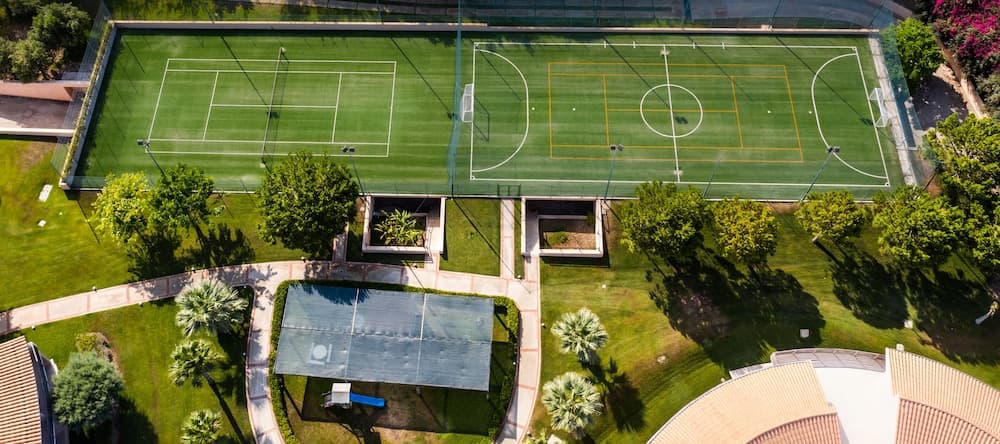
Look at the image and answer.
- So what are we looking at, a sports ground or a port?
sports ground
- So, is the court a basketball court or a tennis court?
tennis court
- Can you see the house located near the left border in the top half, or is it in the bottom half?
bottom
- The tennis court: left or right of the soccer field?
on its left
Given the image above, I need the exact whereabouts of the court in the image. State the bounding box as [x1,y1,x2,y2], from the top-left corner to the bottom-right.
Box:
[72,27,459,194]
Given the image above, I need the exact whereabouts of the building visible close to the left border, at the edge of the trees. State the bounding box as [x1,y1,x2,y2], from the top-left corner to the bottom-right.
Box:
[0,334,92,444]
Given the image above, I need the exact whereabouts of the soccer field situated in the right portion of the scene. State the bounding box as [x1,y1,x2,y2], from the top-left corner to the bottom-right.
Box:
[448,30,907,202]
